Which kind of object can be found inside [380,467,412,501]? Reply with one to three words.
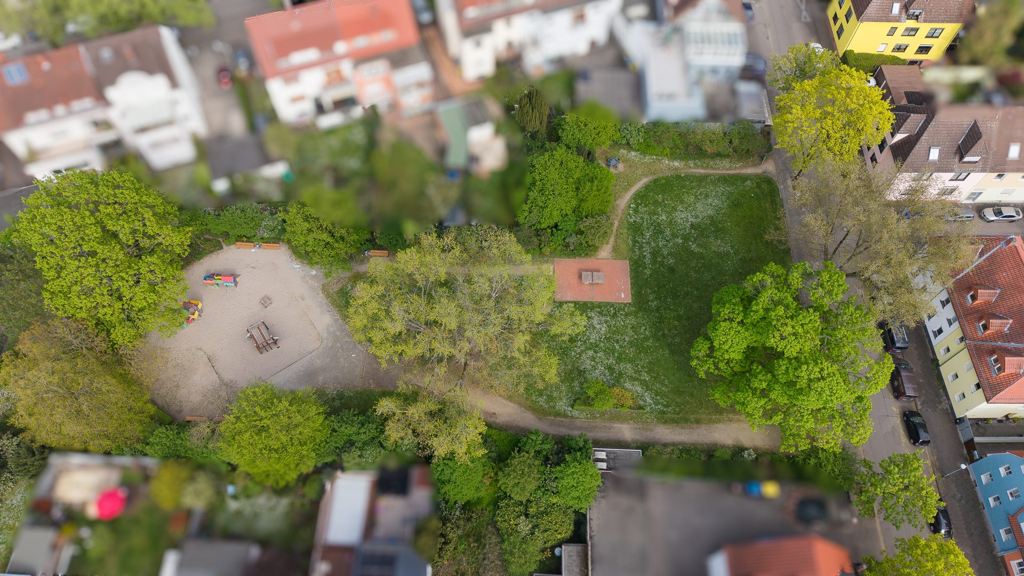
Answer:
shed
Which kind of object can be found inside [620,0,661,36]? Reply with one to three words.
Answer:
building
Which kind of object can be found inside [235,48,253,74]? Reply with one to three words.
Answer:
car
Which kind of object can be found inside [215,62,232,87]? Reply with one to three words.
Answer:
car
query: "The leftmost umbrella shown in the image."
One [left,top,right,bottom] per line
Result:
[83,492,113,523]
